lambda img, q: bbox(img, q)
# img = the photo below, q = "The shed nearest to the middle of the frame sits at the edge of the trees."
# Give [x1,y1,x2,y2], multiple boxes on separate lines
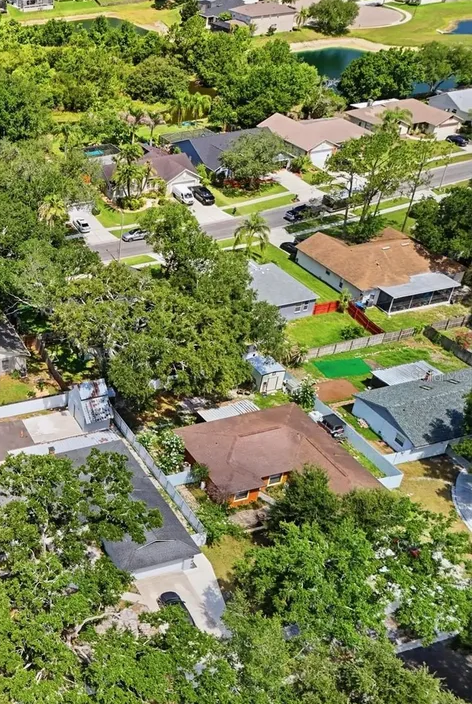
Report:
[244,352,285,392]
